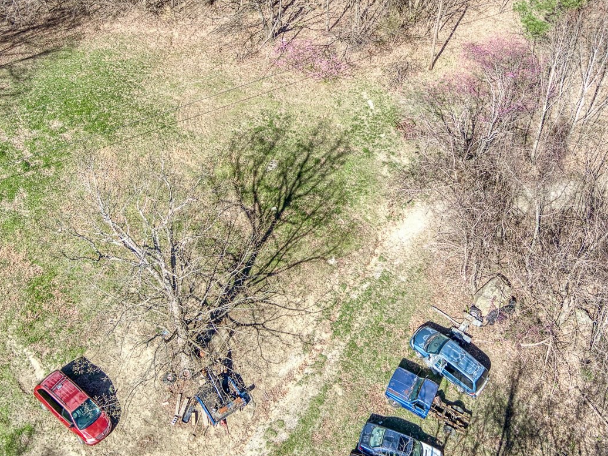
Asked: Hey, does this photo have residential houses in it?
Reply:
No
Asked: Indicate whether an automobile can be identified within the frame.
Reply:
Yes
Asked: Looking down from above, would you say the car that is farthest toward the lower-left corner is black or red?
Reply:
red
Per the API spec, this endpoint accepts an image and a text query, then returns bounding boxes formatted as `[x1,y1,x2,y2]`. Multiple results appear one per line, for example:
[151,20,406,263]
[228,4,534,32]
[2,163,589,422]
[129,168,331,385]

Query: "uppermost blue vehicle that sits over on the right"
[411,323,492,395]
